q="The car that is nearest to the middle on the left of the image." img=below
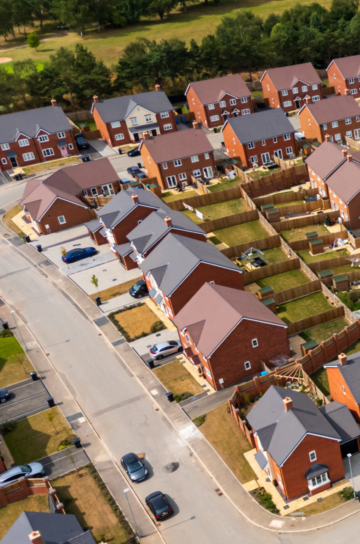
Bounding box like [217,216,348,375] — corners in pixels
[126,280,148,298]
